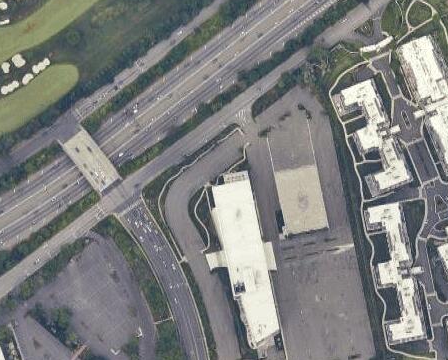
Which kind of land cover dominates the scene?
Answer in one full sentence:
What you mostly see from above here is paved ground.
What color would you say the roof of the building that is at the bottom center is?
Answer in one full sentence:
From above, the roof of the building that is at the bottom center looks white.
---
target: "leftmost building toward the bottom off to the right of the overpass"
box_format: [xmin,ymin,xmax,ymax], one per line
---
[206,170,280,359]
